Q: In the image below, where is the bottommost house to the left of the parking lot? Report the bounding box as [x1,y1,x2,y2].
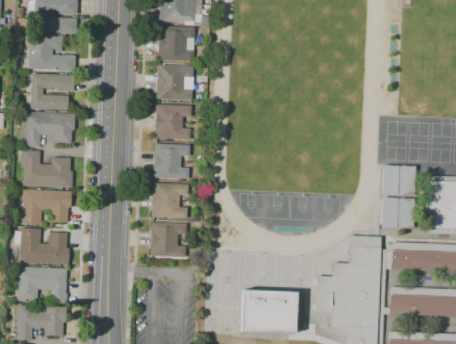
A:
[18,306,67,340]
